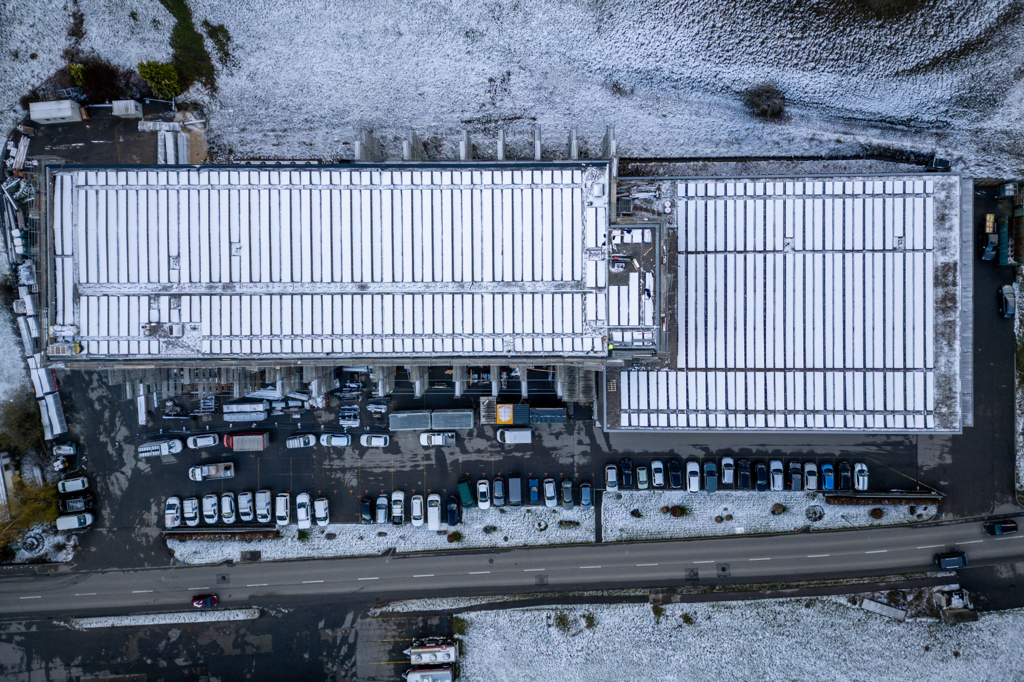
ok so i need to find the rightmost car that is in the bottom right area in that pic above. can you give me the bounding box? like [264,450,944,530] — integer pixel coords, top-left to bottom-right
[983,520,1017,536]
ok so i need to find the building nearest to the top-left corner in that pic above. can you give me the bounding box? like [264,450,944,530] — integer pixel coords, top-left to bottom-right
[29,99,84,125]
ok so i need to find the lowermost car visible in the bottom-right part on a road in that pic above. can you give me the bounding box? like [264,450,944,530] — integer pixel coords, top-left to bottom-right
[934,551,966,568]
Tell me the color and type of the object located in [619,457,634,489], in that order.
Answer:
black car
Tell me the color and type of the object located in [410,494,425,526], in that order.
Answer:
white car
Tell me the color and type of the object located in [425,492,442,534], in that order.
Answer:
white vehicle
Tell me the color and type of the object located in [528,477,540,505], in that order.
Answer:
blue vehicle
